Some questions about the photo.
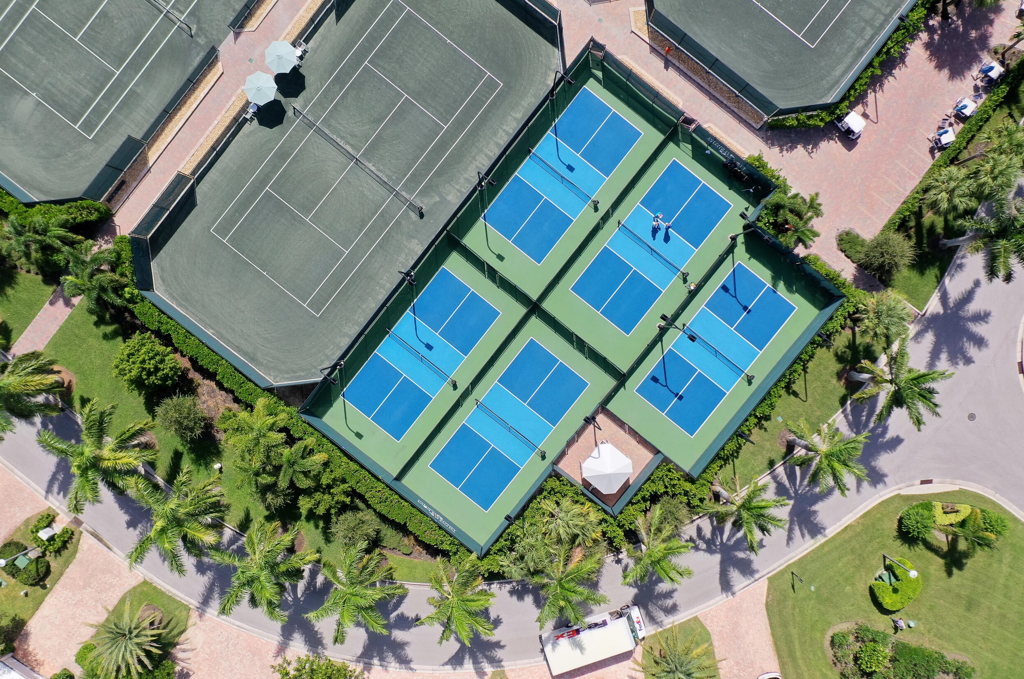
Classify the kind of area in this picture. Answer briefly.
sports ground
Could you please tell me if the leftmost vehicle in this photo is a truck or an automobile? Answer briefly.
truck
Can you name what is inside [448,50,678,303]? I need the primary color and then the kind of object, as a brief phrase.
blue sports court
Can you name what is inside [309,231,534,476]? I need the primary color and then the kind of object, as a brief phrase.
blue sports court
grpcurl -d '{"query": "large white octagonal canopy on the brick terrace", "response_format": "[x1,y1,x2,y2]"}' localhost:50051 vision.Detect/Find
[582,438,633,494]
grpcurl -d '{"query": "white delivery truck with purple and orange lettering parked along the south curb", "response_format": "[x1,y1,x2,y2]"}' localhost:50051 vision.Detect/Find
[541,600,648,676]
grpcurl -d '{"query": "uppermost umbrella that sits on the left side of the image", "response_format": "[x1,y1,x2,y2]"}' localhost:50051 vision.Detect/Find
[264,40,298,75]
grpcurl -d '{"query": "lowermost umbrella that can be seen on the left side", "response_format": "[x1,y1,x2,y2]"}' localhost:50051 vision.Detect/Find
[245,72,277,105]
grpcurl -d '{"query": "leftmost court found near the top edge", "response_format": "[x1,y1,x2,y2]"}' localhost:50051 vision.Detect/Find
[0,0,251,197]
